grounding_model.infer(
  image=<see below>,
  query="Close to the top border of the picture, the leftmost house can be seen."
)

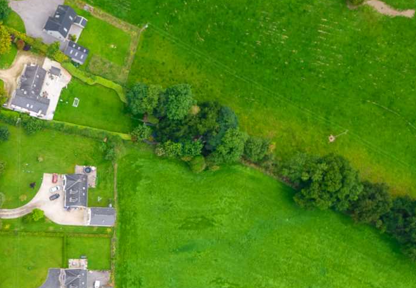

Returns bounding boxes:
[43,4,77,42]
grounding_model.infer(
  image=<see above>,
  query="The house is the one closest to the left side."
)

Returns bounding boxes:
[9,65,50,119]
